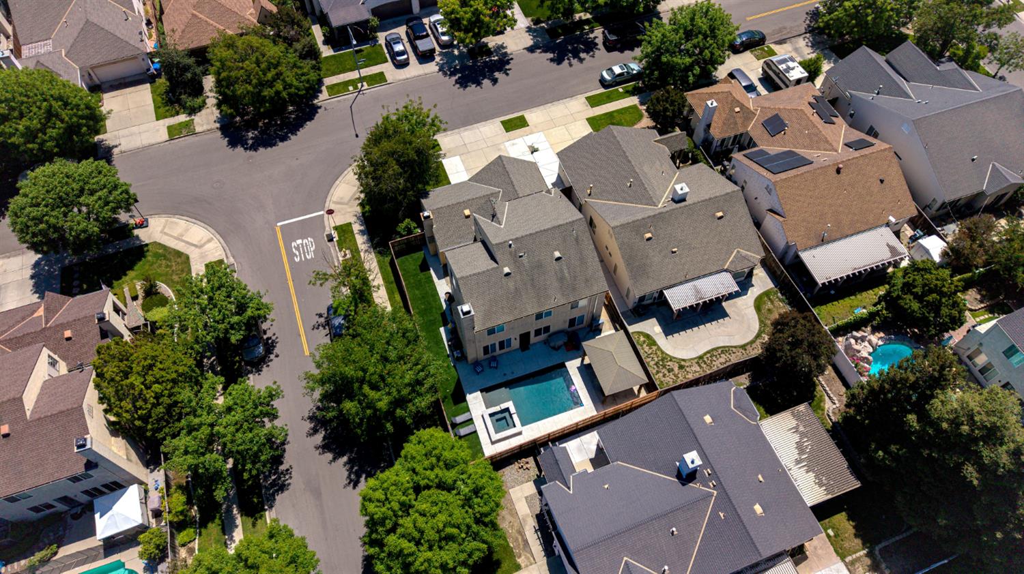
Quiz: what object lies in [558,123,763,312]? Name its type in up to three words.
house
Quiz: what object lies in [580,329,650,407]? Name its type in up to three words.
gazebo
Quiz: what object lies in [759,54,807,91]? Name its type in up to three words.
vehicle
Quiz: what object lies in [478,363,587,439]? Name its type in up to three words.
swimming pool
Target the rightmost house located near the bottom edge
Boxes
[534,382,828,574]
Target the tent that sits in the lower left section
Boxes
[94,484,157,547]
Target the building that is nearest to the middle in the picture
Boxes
[421,155,614,364]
